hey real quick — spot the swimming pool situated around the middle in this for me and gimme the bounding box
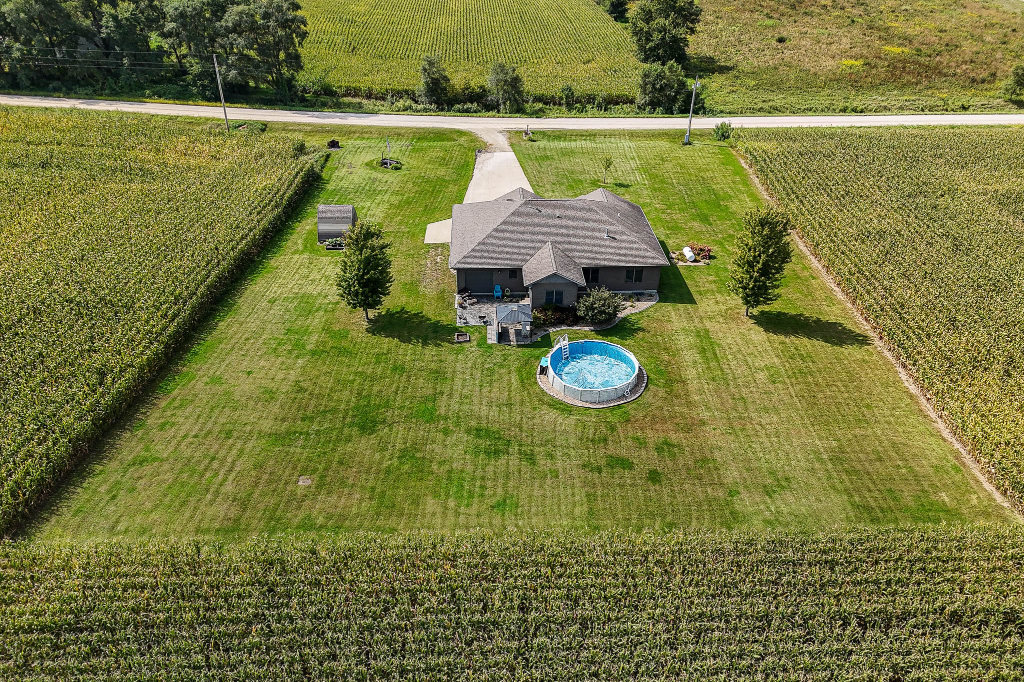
[547,340,640,403]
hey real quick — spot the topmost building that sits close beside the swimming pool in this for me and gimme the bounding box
[448,186,670,310]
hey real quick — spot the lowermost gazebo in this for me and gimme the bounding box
[496,303,533,343]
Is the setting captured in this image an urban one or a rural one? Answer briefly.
rural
